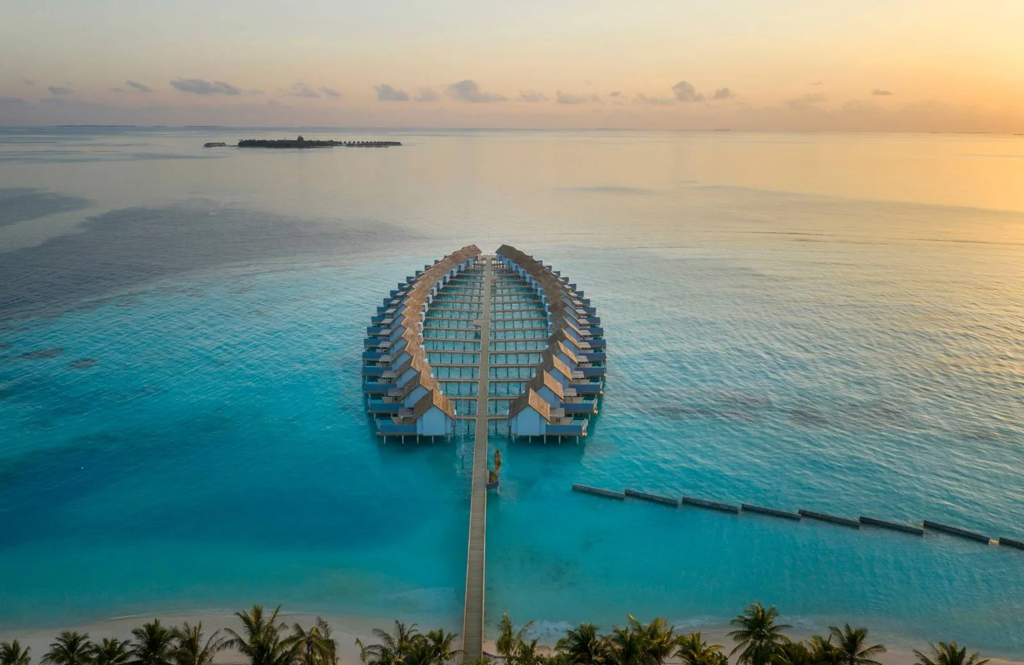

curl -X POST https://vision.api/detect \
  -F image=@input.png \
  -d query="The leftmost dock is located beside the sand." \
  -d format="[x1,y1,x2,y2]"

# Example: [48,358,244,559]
[462,254,499,665]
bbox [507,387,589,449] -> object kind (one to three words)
house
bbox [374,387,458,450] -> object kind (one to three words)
house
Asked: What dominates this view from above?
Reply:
water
